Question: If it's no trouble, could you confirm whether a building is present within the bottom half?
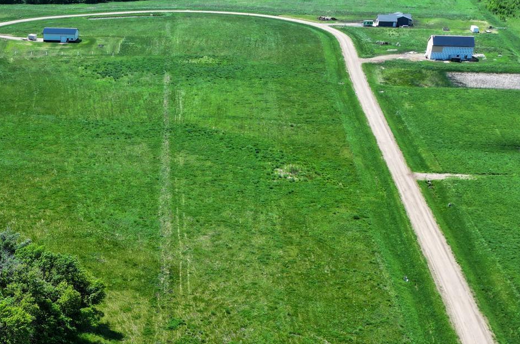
No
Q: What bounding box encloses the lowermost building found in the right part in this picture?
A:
[423,34,476,60]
